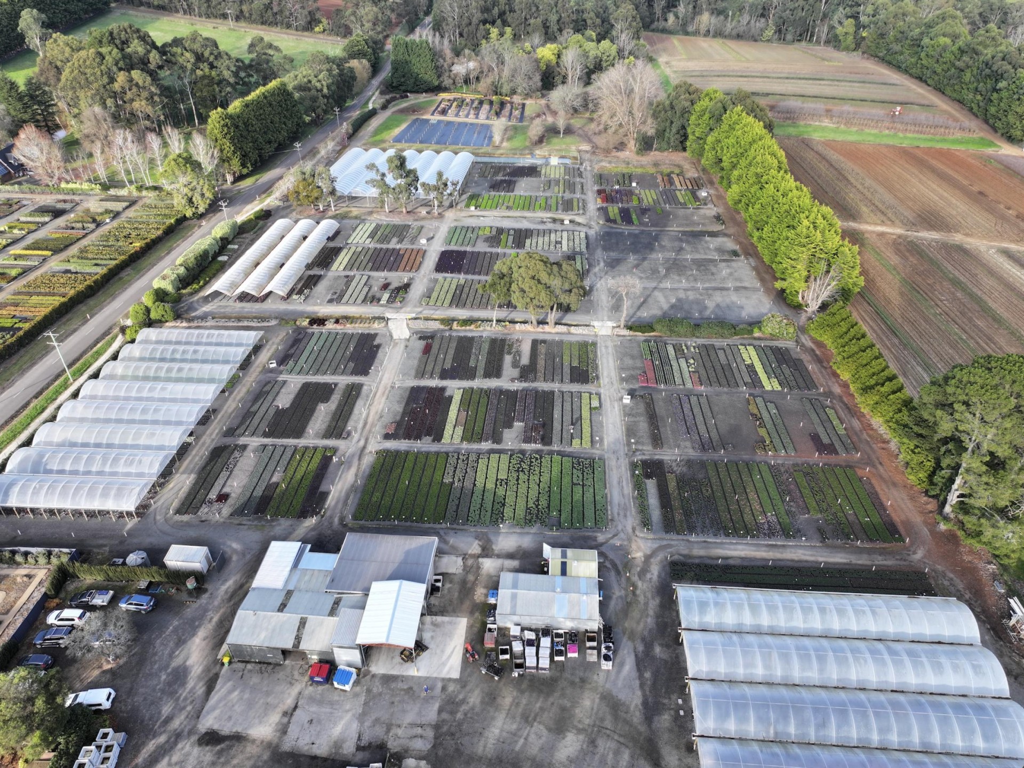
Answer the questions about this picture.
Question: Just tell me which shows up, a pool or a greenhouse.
greenhouse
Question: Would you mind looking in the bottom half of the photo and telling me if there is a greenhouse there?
Yes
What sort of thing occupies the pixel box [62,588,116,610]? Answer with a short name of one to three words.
truck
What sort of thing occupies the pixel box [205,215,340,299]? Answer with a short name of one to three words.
greenhouse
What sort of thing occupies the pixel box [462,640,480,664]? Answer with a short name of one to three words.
work vehicle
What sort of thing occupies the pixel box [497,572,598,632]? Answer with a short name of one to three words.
shed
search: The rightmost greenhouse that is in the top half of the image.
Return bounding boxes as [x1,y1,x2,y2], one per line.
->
[310,146,475,202]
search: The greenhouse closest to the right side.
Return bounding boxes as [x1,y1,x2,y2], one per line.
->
[671,580,1024,768]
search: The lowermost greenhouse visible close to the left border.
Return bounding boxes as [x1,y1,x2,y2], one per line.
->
[0,323,266,522]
